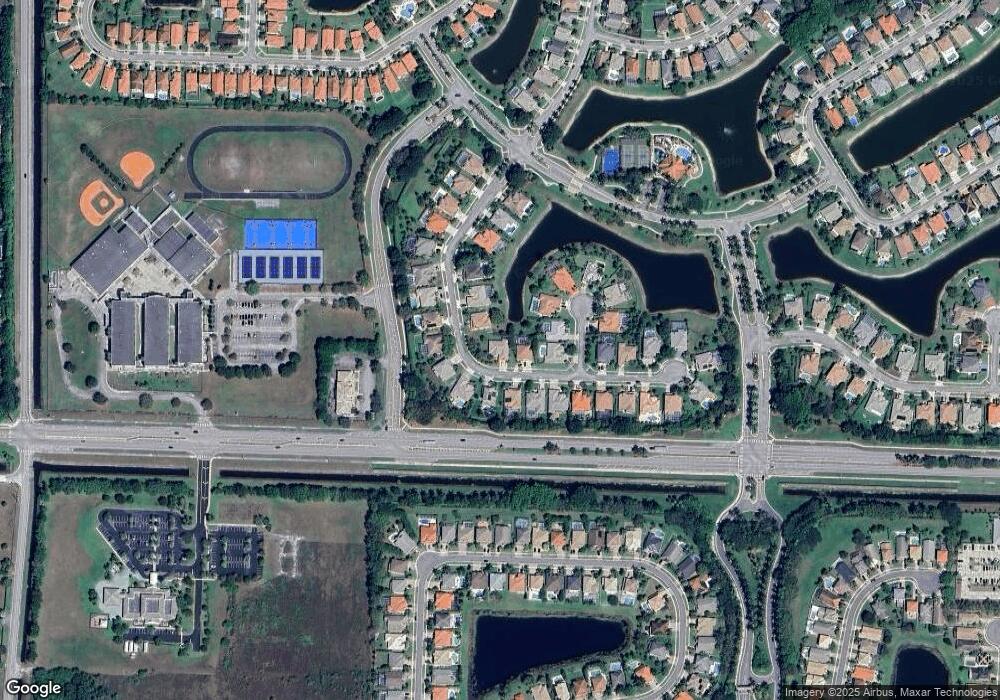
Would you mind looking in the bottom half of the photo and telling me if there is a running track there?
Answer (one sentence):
No, no running track is visible in the bottom half of the photo.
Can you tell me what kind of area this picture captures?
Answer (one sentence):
What you see here is a residential area.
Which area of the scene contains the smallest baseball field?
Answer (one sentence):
The smallest baseball field is in the top left part of the image.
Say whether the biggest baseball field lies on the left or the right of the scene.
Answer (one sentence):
The biggest baseball field is on the left side of the image.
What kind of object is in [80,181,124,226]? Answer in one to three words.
baseball field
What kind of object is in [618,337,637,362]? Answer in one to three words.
house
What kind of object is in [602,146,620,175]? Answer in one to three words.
basketball court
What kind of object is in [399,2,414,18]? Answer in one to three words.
swimming pool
